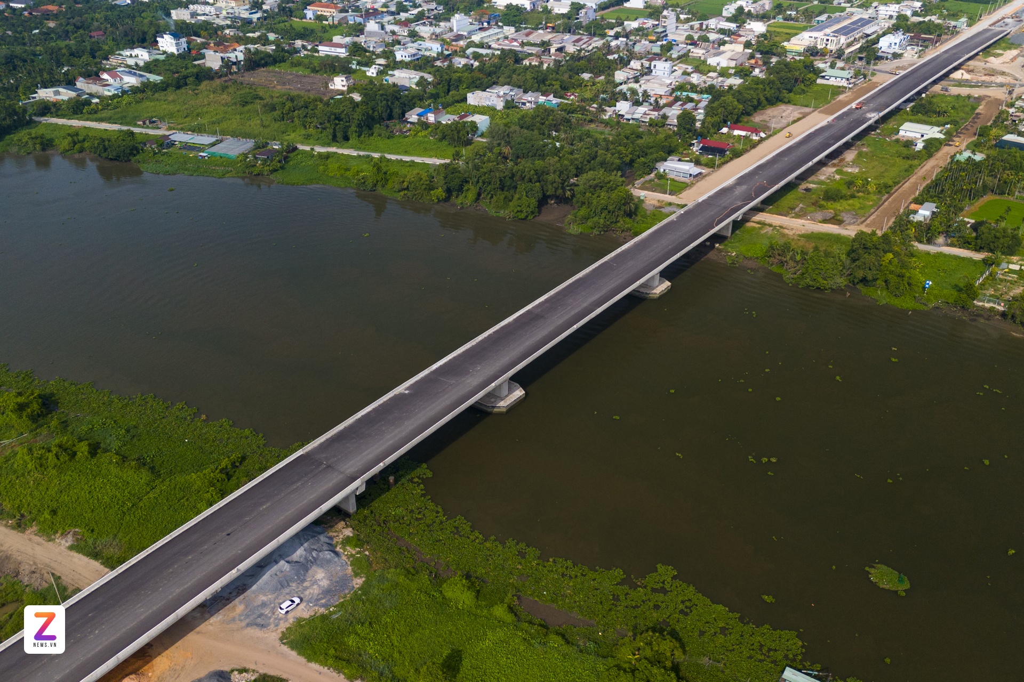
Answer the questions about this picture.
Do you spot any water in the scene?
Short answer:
Yes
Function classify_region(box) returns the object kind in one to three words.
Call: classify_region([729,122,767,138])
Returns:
house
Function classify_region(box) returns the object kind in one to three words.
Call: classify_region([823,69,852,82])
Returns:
house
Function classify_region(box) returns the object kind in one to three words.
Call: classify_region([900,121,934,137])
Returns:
building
